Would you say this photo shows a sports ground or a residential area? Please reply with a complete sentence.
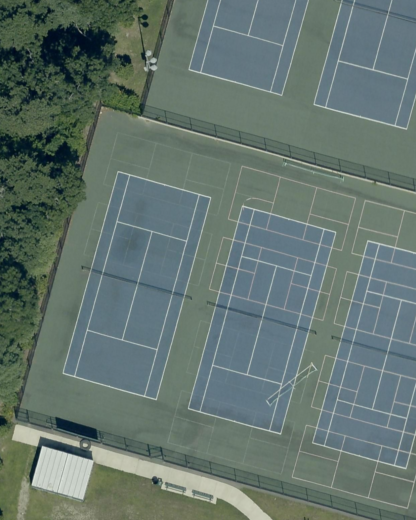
The area seen from above is a sports ground.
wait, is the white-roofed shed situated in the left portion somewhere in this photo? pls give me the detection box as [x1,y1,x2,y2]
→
[32,446,94,502]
